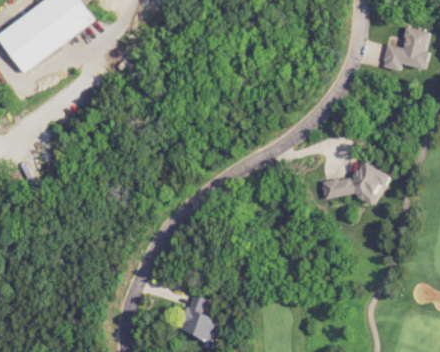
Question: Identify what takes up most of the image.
trees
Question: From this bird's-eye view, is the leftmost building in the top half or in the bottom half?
top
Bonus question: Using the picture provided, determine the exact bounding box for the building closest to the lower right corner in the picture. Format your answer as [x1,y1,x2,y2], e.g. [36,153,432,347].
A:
[322,162,393,206]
